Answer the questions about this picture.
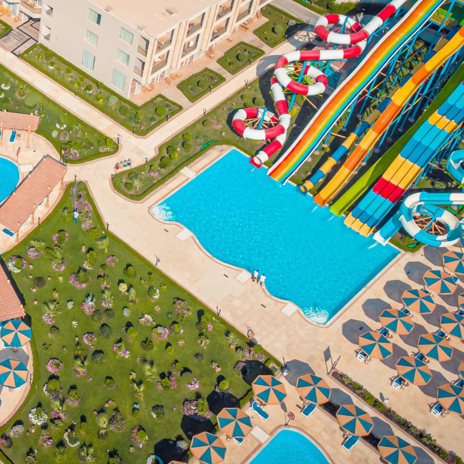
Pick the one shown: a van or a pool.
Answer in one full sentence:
This aerial view contains a pool.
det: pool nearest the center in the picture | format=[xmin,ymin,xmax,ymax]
[148,148,405,327]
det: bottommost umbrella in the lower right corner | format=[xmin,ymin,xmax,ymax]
[376,434,418,464]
